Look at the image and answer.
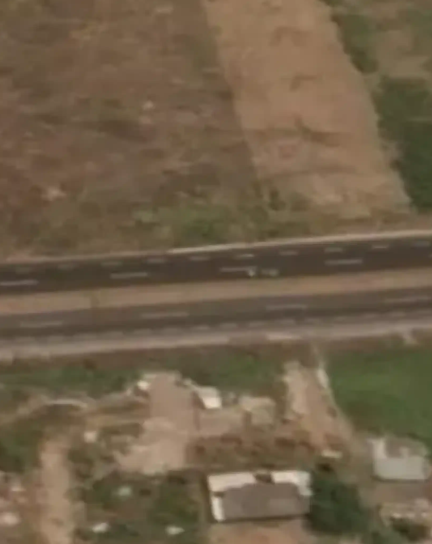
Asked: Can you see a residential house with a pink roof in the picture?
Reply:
No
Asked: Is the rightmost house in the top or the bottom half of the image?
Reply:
bottom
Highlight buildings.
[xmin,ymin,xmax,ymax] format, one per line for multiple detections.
[200,386,220,416]
[244,397,274,429]
[208,470,310,526]
[372,438,427,485]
